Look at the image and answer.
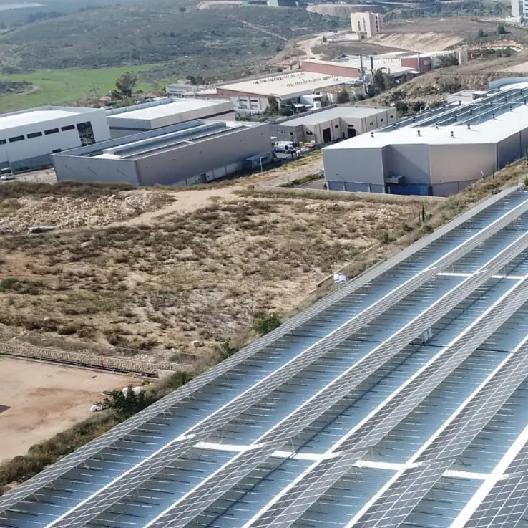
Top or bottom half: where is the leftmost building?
top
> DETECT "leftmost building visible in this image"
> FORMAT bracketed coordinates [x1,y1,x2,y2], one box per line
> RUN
[0,105,109,182]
